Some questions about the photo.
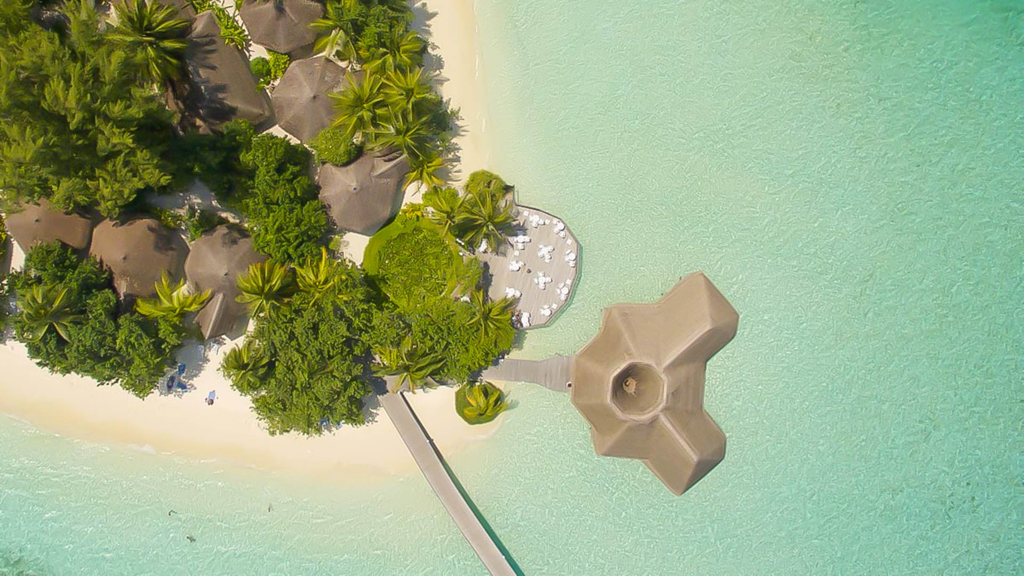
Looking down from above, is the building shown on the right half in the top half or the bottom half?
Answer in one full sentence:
You can find the building shown on the right half in the bottom half.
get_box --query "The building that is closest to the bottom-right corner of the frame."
[571,270,739,496]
